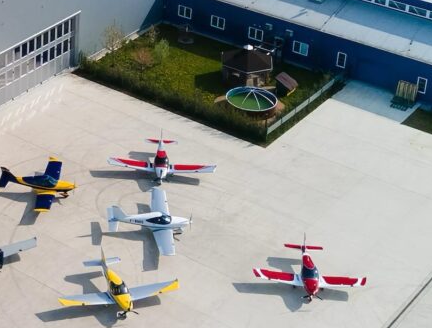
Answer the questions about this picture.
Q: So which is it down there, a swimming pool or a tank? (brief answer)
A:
swimming pool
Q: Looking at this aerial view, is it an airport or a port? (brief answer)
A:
airport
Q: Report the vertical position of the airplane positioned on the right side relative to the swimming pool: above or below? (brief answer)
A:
below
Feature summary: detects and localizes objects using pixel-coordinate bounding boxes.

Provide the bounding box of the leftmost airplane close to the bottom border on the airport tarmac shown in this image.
[58,243,177,317]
